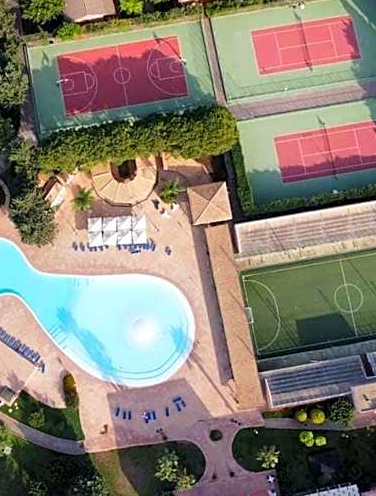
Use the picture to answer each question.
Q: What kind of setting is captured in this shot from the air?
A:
sports ground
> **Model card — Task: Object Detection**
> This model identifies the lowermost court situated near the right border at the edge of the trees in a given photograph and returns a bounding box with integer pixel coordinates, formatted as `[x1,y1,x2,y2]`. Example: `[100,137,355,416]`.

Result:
[237,98,376,211]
